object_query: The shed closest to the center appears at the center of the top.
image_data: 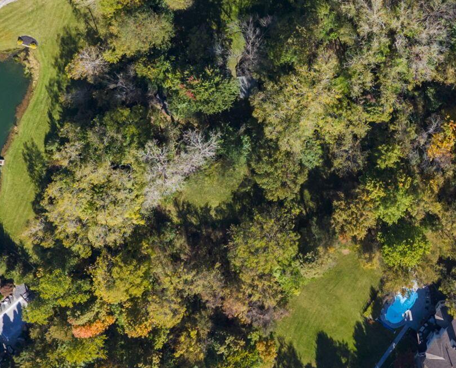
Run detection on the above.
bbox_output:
[238,74,258,97]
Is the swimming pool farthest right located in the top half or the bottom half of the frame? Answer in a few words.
bottom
